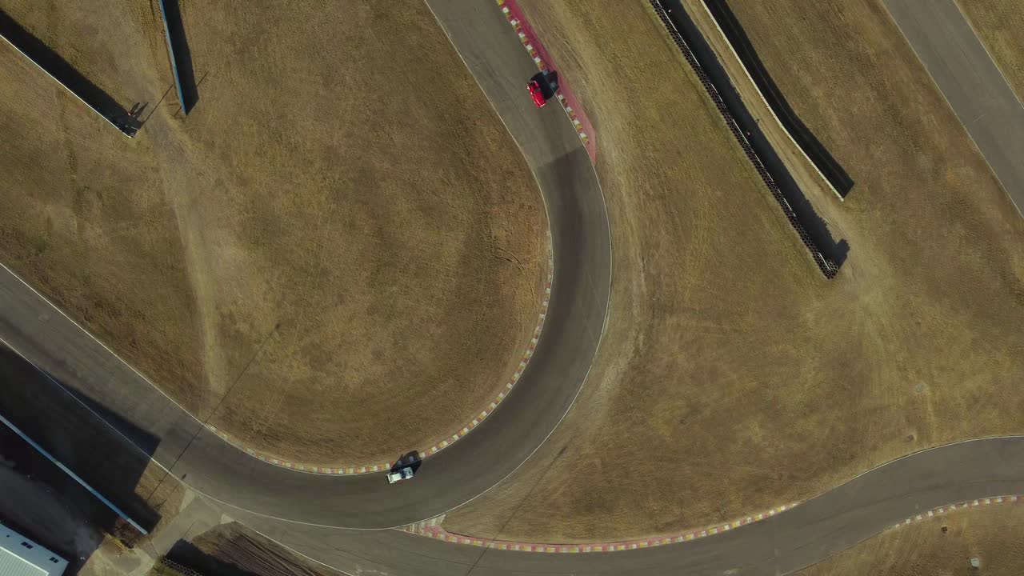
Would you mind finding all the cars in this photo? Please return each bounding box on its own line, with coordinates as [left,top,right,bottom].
[528,80,546,107]
[387,468,414,482]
